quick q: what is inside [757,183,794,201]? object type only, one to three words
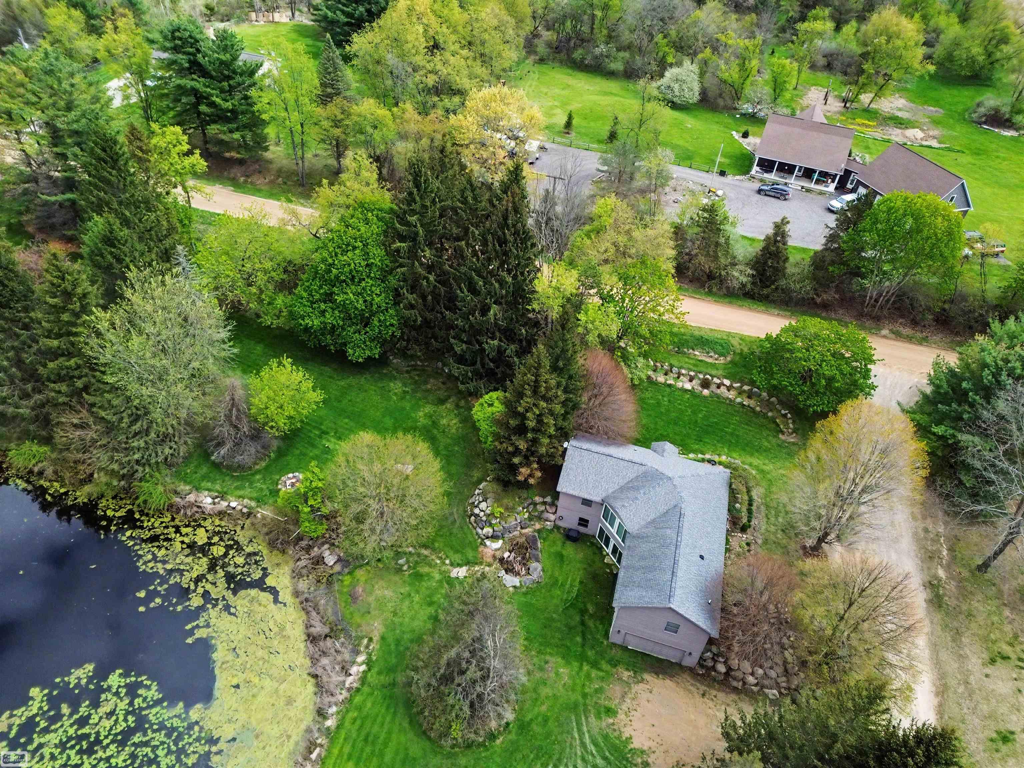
car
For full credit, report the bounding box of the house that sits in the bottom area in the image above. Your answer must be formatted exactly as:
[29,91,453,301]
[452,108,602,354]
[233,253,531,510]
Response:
[555,434,732,667]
